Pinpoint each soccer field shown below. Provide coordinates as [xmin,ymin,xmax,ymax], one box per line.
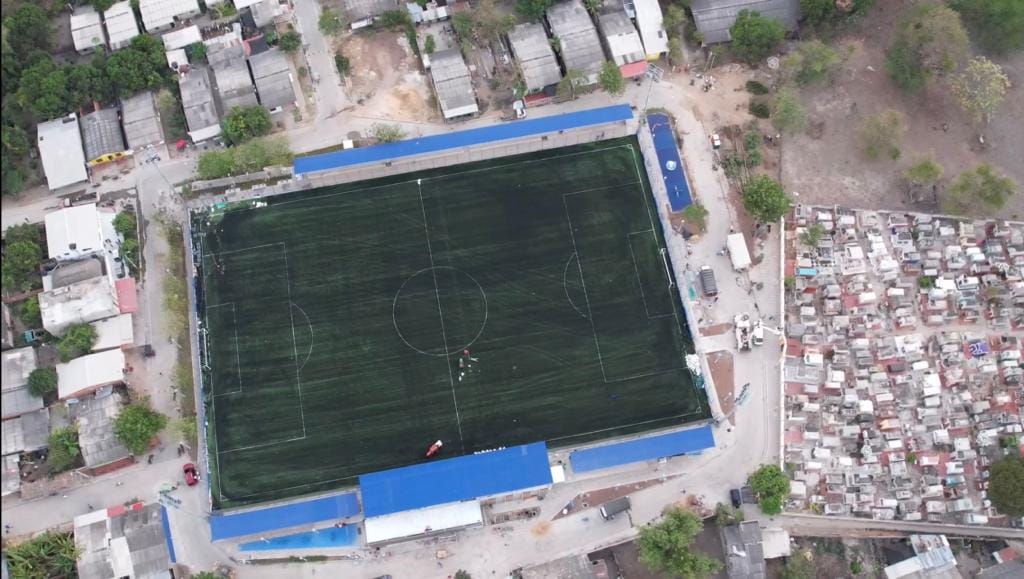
[191,135,713,514]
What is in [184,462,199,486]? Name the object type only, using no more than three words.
car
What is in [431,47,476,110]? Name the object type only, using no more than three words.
house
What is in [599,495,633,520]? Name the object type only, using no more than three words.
truck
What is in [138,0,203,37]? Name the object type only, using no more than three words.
house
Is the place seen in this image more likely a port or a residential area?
residential area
